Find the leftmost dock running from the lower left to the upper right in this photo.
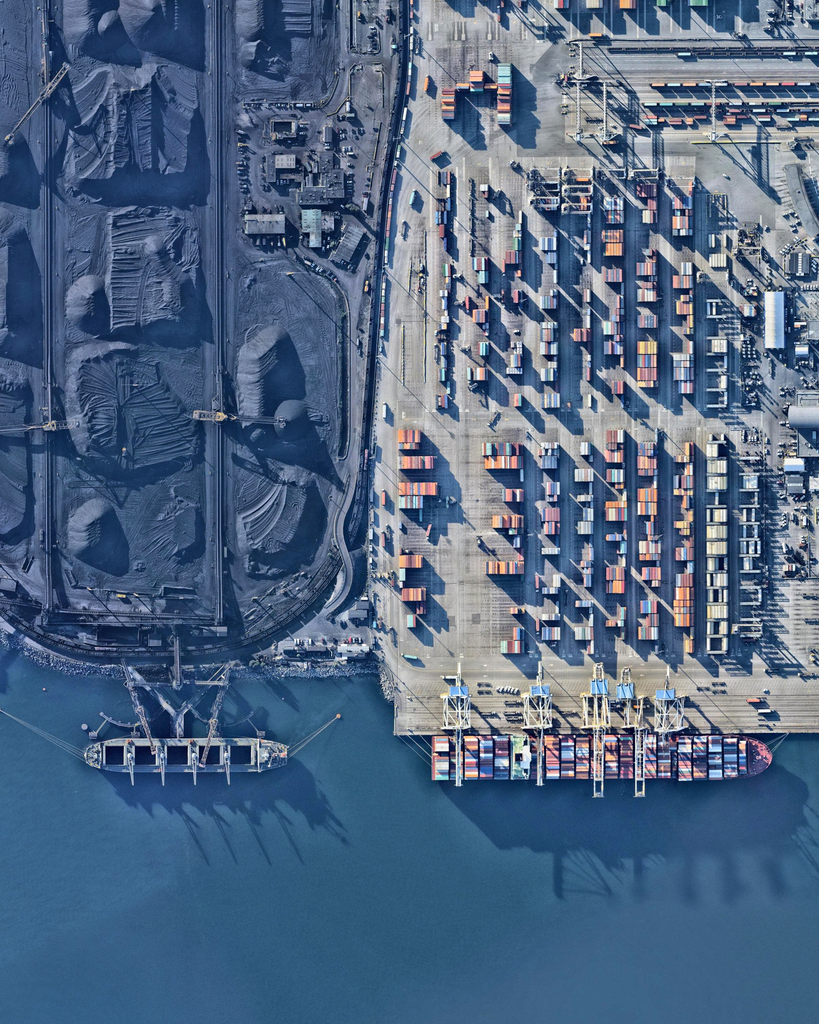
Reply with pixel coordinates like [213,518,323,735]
[180,659,235,716]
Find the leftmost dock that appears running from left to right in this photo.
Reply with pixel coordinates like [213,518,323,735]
[99,708,166,728]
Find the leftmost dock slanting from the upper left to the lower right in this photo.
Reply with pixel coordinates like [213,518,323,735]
[126,664,181,719]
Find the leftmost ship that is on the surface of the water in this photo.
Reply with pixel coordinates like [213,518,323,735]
[84,738,287,786]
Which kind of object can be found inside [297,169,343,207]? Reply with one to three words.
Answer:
building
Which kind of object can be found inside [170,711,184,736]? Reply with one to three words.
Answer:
pier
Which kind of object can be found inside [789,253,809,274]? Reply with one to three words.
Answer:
building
